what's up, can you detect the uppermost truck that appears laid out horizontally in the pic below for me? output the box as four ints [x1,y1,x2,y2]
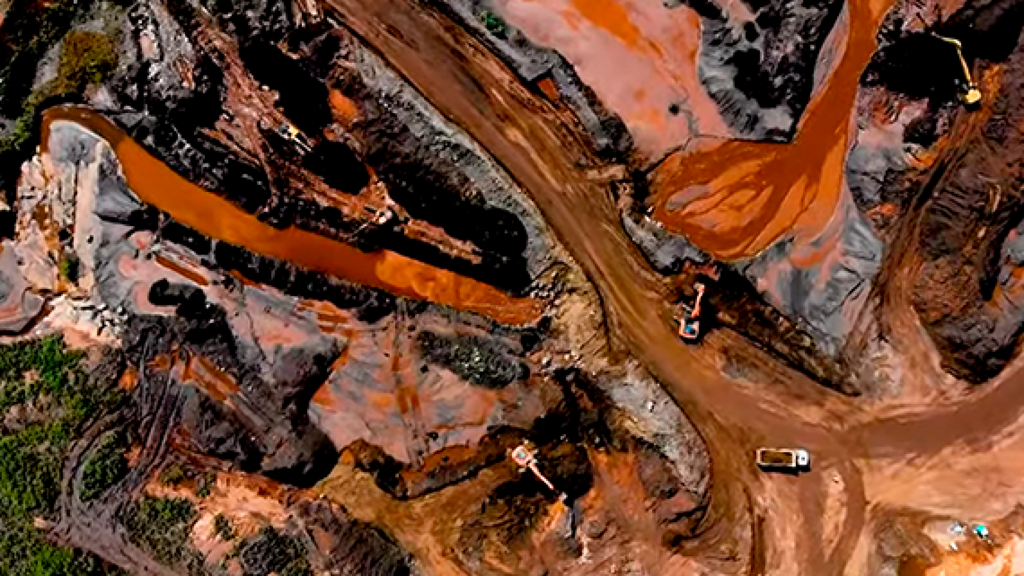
[754,446,809,468]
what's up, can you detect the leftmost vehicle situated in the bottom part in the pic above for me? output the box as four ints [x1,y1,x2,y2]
[510,444,558,493]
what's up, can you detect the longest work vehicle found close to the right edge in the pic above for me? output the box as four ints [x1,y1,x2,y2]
[931,32,982,106]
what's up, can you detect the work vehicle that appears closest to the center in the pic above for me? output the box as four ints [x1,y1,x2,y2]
[357,203,395,233]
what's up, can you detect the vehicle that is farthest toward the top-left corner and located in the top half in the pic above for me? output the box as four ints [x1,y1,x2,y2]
[284,123,312,151]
